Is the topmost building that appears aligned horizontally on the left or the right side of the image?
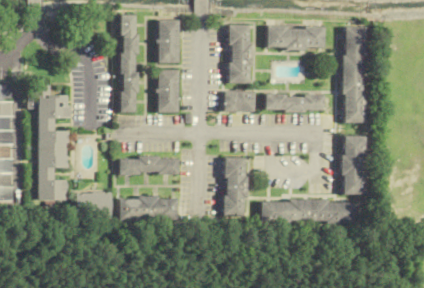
right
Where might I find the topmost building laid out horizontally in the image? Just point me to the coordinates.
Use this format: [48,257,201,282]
[268,25,326,52]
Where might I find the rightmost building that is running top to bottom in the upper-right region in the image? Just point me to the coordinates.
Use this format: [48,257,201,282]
[344,26,366,124]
